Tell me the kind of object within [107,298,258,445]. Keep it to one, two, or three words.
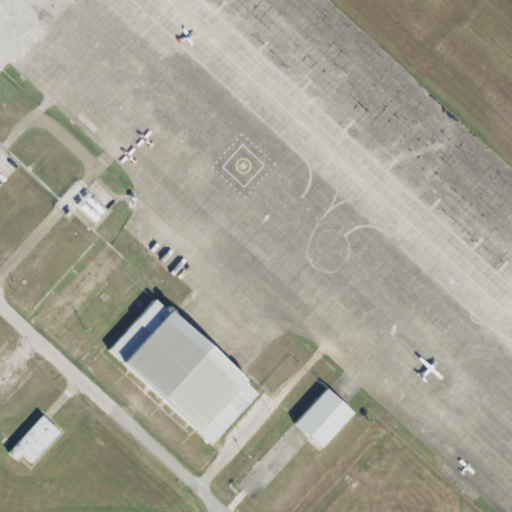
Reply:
hangar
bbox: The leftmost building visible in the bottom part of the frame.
[7,414,61,464]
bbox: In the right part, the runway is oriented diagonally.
[200,0,512,284]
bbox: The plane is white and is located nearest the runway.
[179,28,194,46]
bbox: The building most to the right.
[292,388,356,448]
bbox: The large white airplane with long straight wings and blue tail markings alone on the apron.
[418,358,444,382]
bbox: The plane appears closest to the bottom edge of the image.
[458,460,475,475]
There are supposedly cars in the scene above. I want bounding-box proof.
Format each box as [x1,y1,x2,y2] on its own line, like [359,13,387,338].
[106,200,116,209]
[8,158,18,168]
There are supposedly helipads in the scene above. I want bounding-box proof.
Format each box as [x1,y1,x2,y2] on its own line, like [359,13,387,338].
[212,133,276,198]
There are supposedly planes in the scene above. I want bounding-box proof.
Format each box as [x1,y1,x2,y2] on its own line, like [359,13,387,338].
[138,132,153,147]
[418,358,444,382]
[122,148,136,164]
[458,460,475,475]
[179,28,194,46]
